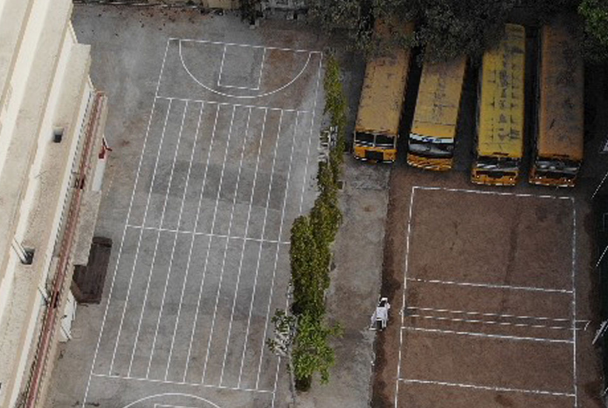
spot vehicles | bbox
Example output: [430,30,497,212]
[527,27,585,196]
[404,5,463,174]
[350,1,418,166]
[373,293,392,332]
[471,26,526,193]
